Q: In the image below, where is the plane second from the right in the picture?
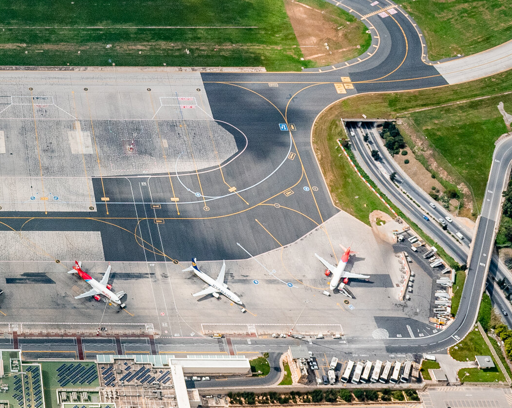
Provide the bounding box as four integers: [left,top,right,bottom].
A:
[187,259,244,305]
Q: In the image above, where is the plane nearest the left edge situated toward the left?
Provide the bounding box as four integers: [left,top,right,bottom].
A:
[70,260,123,305]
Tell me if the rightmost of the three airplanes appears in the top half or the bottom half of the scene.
bottom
